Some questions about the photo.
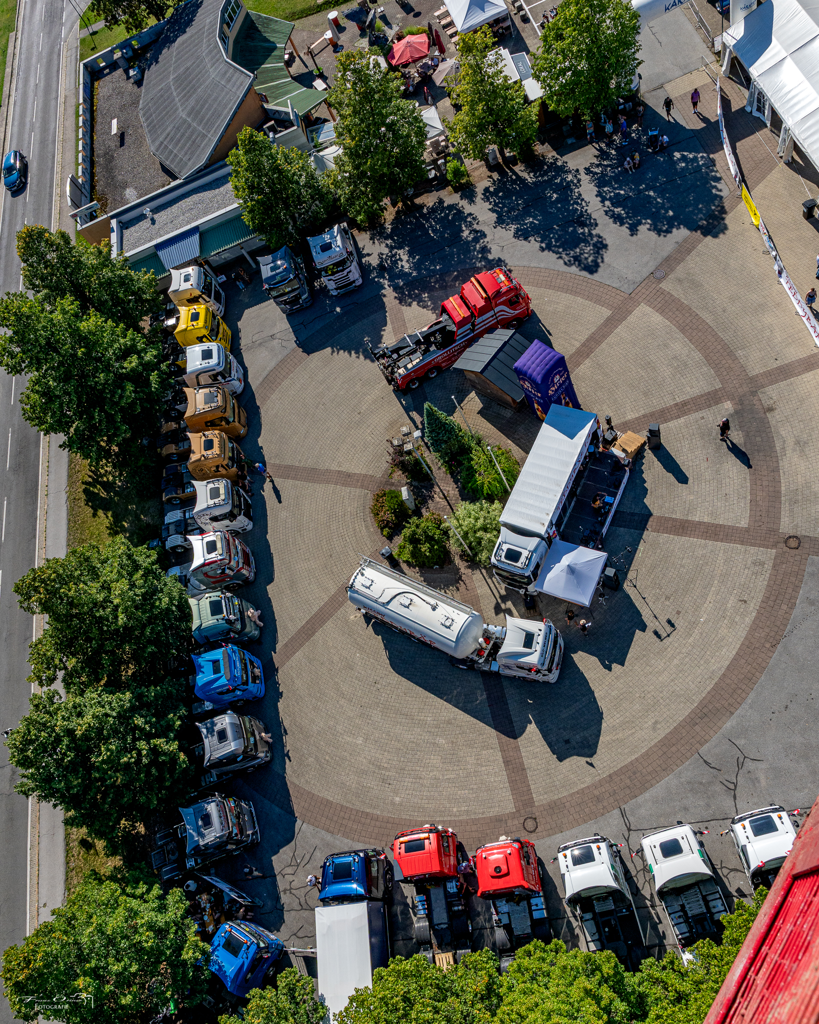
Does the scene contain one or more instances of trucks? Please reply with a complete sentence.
Yes, the photo shows a truck.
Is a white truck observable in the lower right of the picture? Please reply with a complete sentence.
Yes, a white truck is visible in the lower right of the picture.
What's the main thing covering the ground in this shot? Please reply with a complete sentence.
What you mostly see from above here is paved ground.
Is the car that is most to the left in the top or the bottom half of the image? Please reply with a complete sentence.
The car that is most to the left sits in the top half of the picture.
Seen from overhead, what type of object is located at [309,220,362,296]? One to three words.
truck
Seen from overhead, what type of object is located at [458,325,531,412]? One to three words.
shed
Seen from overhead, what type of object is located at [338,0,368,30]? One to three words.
umbrella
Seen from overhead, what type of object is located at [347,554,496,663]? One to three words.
trailer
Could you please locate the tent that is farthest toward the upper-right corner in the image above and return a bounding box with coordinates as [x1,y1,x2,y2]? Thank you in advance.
[688,0,819,184]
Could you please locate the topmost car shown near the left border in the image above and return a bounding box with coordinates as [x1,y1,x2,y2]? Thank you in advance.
[0,152,30,194]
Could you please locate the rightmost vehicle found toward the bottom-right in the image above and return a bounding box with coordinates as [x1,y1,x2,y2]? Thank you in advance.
[715,791,800,899]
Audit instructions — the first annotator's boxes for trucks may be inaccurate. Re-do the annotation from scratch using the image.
[715,791,800,899]
[187,903,294,1024]
[151,785,262,882]
[544,825,648,983]
[463,830,561,982]
[356,263,533,398]
[626,810,734,978]
[165,380,251,457]
[309,220,362,296]
[164,337,248,414]
[168,471,260,551]
[446,616,566,687]
[384,818,480,984]
[480,404,601,604]
[148,263,227,336]
[164,425,253,502]
[166,638,268,725]
[167,523,259,607]
[168,580,265,668]
[316,842,399,1024]
[169,702,275,800]
[154,301,236,373]
[259,240,313,317]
